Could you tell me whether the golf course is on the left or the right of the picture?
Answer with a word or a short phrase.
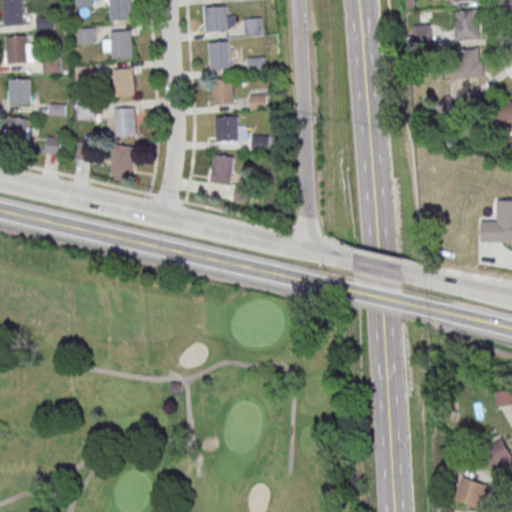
left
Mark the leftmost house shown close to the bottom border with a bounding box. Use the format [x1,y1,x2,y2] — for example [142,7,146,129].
[456,477,486,508]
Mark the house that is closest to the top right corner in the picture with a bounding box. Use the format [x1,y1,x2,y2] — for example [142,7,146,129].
[455,10,480,40]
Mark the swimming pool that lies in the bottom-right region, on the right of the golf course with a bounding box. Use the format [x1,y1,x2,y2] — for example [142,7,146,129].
[473,402,489,421]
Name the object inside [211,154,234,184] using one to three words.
house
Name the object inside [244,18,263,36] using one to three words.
building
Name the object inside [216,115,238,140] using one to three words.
house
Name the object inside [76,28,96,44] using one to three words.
building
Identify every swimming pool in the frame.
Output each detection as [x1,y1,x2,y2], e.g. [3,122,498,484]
[473,402,489,421]
[78,6,93,20]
